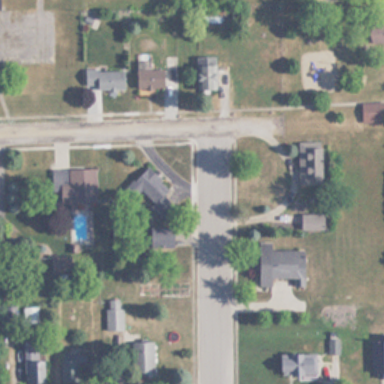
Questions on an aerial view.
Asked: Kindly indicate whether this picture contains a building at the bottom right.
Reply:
Yes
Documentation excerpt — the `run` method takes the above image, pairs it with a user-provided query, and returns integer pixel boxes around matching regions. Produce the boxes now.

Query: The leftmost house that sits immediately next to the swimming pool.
[52,168,97,210]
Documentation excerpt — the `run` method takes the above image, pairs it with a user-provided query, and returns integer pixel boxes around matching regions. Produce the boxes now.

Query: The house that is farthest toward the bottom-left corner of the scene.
[24,352,46,384]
